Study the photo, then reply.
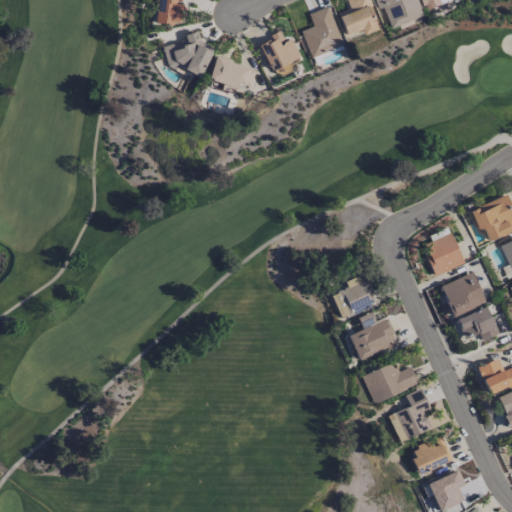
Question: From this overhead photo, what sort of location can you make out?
golf course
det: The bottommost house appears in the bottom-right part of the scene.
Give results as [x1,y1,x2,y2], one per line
[428,469,467,511]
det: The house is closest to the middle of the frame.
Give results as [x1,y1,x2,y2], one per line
[333,279,377,318]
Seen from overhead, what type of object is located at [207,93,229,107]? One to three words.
swimming pool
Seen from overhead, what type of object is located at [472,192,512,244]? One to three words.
house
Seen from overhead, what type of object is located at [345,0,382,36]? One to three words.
house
